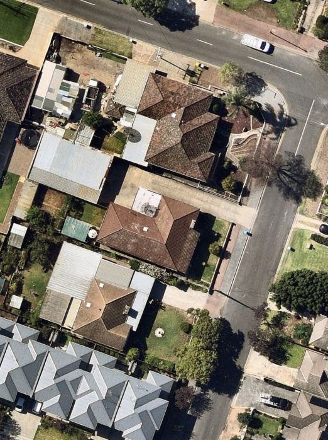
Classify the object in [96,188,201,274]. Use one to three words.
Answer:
house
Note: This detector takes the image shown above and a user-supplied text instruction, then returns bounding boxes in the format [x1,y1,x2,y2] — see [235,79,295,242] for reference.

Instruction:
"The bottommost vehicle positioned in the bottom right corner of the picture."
[261,394,290,409]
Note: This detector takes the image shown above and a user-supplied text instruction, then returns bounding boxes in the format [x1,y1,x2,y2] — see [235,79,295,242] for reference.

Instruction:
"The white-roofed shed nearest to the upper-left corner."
[31,60,78,117]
